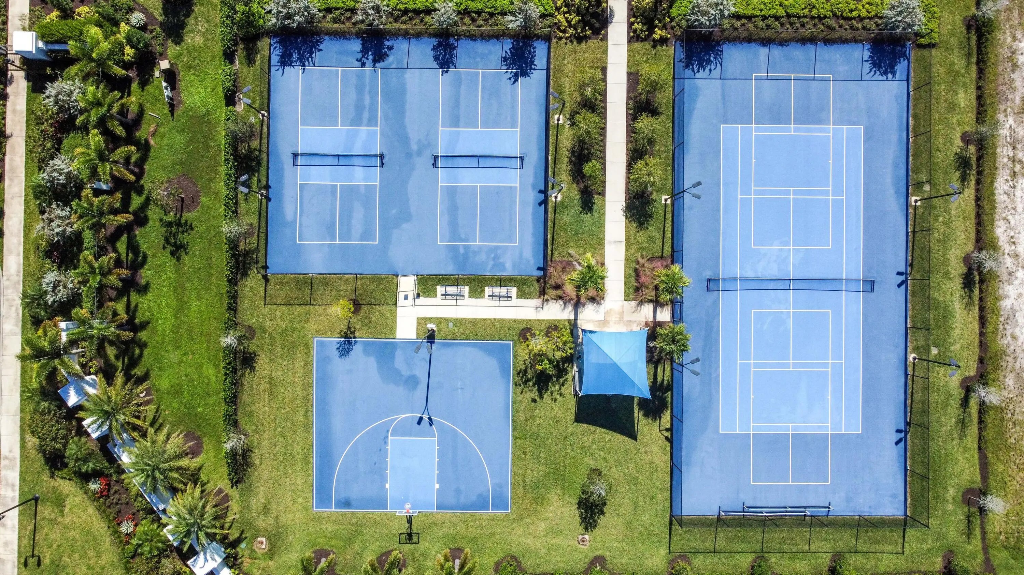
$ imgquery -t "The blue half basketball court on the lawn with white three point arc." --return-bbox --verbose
[313,337,513,513]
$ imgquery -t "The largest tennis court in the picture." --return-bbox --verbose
[672,41,911,516]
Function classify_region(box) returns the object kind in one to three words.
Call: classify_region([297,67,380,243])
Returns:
sports court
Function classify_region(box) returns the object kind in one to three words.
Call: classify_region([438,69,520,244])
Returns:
sports court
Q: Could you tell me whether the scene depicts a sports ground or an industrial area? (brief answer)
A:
sports ground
